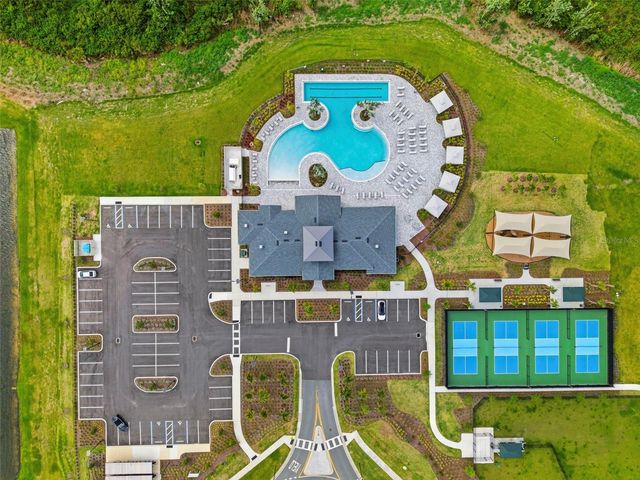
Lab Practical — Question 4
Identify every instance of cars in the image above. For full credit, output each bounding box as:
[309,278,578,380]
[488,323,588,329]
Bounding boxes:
[112,414,129,432]
[378,301,386,320]
[78,270,98,279]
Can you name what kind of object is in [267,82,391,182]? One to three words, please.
swimming pool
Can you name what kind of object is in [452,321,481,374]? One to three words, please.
sports court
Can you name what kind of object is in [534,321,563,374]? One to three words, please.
sports court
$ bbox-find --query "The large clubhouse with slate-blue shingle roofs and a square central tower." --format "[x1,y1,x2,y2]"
[238,194,396,281]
